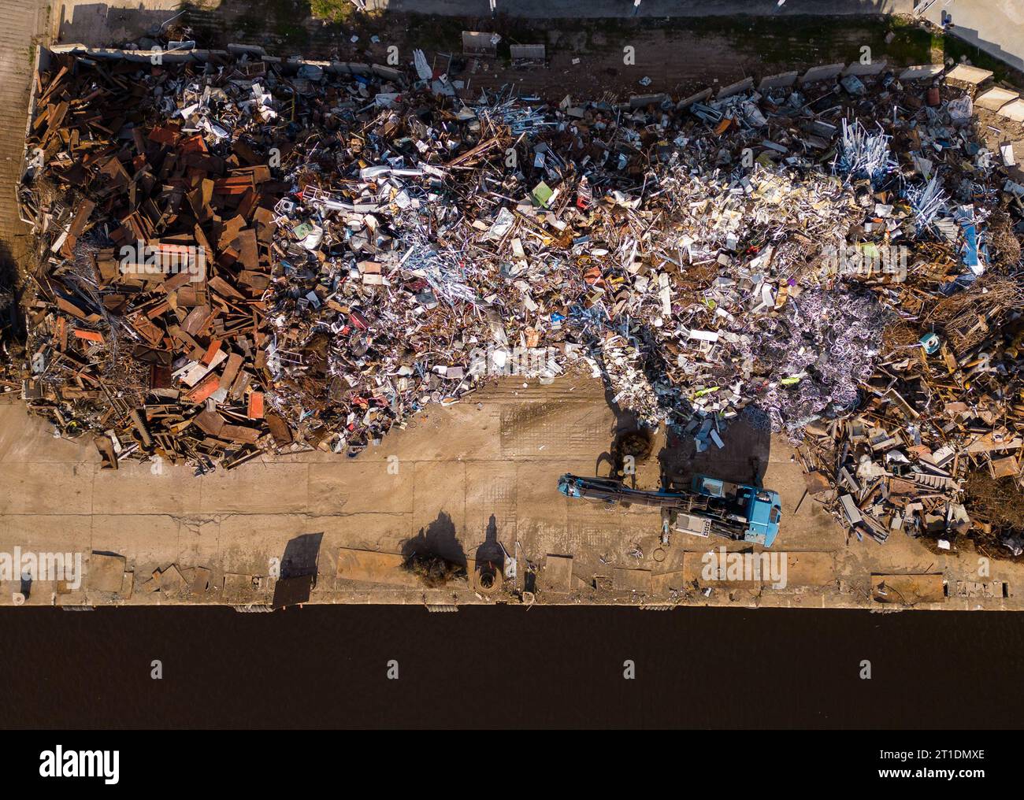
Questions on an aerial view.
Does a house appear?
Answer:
No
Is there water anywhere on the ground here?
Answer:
Yes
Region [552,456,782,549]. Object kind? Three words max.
work vehicle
